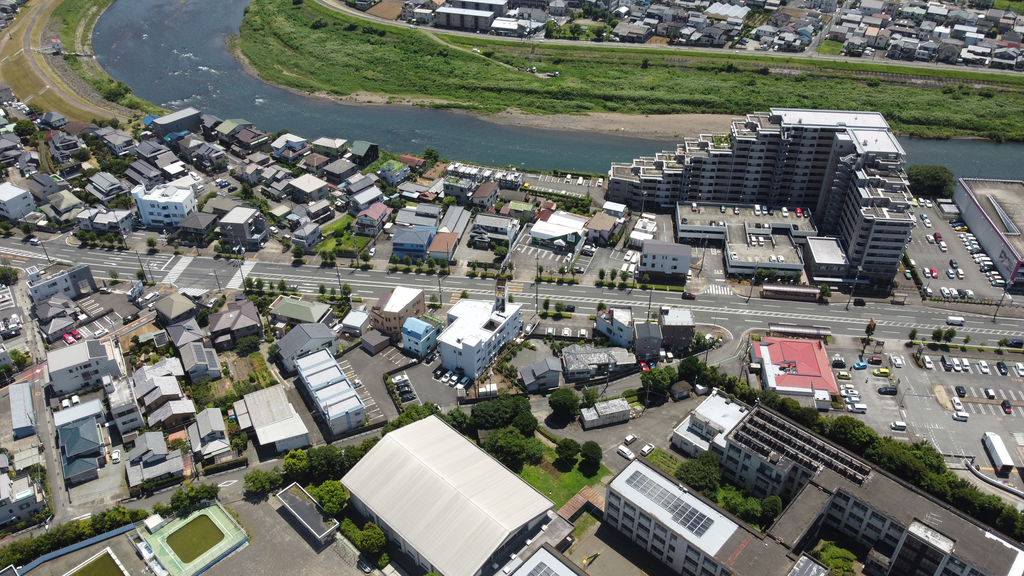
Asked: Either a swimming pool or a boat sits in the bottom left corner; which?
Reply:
swimming pool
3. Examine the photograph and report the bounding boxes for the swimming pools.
[66,545,128,576]
[138,503,248,576]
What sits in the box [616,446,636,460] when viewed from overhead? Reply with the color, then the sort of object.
white car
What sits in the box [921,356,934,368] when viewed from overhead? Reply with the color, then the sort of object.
white vehicle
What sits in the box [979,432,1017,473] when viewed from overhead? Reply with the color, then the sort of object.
white truck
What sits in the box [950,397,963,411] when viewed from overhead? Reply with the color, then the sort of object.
white vehicle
